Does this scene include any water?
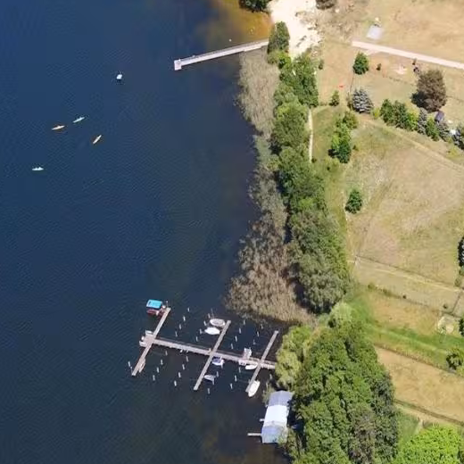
Yes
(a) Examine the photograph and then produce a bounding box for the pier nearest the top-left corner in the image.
[173,38,270,70]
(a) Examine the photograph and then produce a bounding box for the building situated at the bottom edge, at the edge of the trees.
[249,392,294,452]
